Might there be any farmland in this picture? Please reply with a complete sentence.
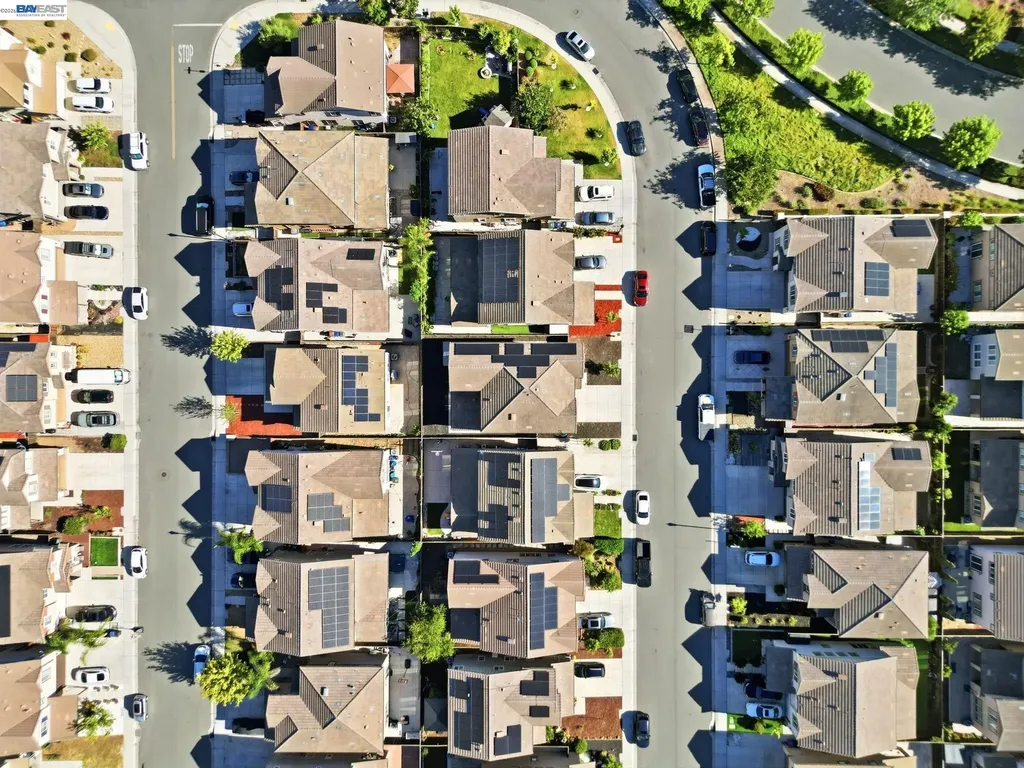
No, the scene doesn't show any farmland.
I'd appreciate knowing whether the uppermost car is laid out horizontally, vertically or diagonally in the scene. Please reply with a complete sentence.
The uppermost car runs diagonally in the image.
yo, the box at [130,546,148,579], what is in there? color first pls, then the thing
white car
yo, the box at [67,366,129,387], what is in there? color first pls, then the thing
white vehicle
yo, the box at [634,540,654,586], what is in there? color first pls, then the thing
black vehicle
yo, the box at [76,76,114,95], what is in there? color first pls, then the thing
white car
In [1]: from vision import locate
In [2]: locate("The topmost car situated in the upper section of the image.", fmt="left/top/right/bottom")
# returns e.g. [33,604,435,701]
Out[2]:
[564,31,595,63]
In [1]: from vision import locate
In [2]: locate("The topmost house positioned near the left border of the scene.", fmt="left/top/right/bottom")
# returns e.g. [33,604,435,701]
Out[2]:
[0,44,66,119]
